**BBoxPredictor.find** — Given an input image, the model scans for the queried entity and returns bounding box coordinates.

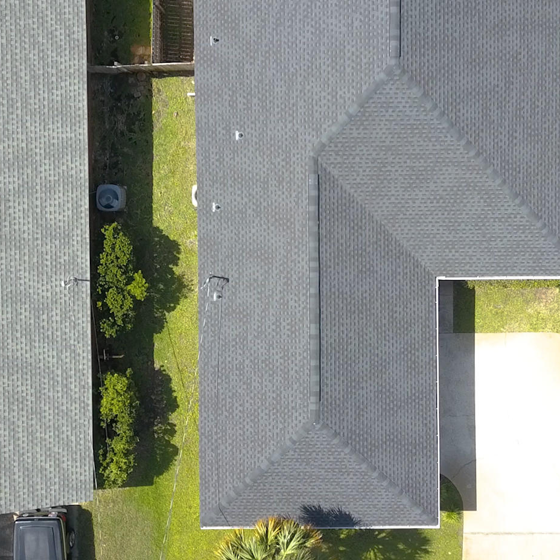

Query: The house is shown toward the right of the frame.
[188,0,560,532]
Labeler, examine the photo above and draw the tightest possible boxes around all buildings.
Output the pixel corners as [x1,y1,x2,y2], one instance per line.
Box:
[0,0,97,512]
[188,0,560,532]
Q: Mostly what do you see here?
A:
buildings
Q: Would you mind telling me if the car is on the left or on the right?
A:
left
